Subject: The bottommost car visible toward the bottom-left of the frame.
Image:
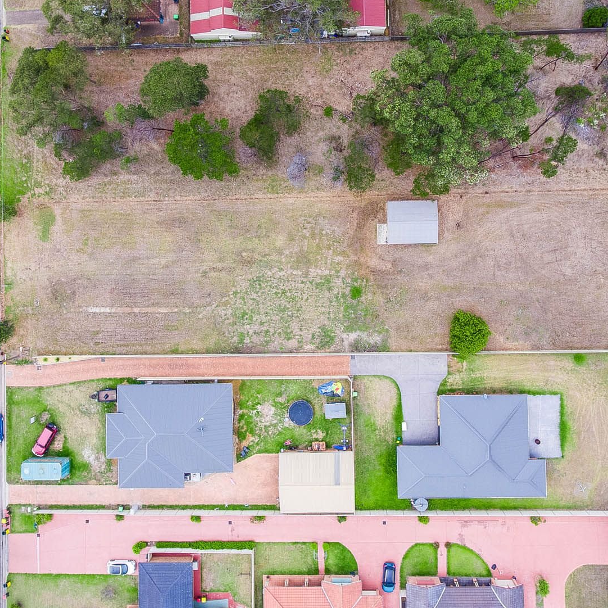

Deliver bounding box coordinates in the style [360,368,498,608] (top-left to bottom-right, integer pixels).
[104,562,134,577]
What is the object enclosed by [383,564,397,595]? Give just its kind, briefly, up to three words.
car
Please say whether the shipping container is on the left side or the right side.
left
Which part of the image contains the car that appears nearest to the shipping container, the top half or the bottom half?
bottom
